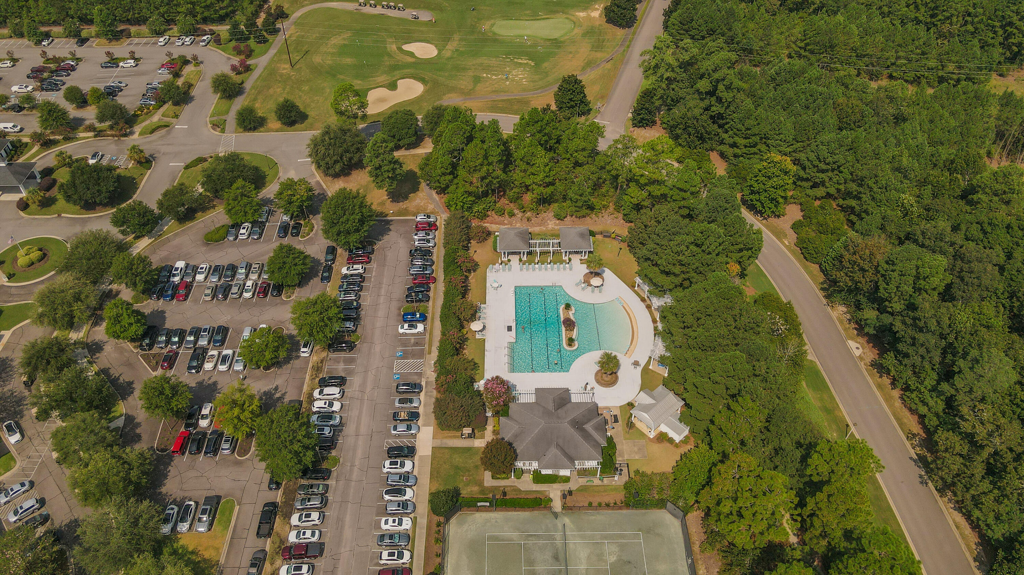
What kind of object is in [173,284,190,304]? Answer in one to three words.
car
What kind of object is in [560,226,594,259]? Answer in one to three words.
building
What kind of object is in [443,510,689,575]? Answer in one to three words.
tennis court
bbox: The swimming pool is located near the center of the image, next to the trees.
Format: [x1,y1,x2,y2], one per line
[476,259,654,417]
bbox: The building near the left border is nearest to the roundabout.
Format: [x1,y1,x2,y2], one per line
[0,138,42,197]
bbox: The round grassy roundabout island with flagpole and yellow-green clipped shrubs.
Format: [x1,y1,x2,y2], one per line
[0,236,69,284]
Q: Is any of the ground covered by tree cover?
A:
Yes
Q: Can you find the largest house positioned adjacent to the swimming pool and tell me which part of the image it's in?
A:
bottom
